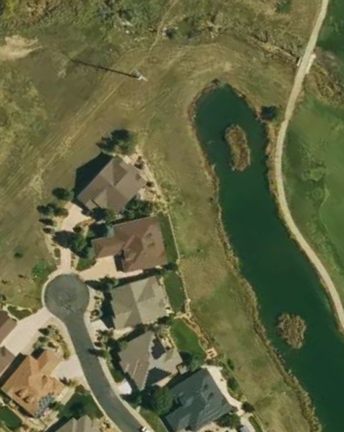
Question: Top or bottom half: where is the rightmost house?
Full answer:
The rightmost house is in the bottom half of the image.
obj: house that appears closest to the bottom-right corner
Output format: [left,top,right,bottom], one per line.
[161,365,232,432]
